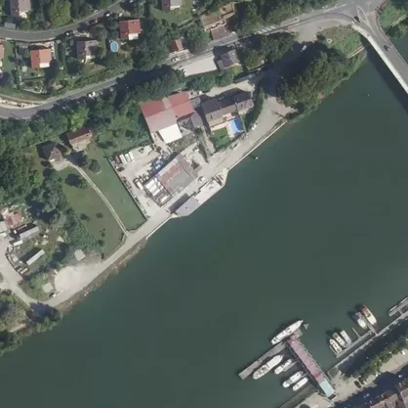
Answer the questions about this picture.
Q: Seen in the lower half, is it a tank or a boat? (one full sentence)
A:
It is a boat that can be seen in the lower half.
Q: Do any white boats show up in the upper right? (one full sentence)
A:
No, no white boat is visible in the upper right.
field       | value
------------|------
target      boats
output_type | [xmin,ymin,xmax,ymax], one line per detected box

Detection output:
[356,314,368,329]
[362,306,377,324]
[330,339,340,353]
[274,360,292,374]
[292,378,307,391]
[270,320,304,344]
[251,355,284,380]
[342,331,353,344]
[282,372,303,387]
[334,334,346,347]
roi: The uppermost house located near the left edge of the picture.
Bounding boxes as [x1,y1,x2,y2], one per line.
[7,0,30,17]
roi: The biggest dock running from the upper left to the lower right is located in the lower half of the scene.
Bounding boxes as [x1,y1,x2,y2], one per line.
[284,337,335,395]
